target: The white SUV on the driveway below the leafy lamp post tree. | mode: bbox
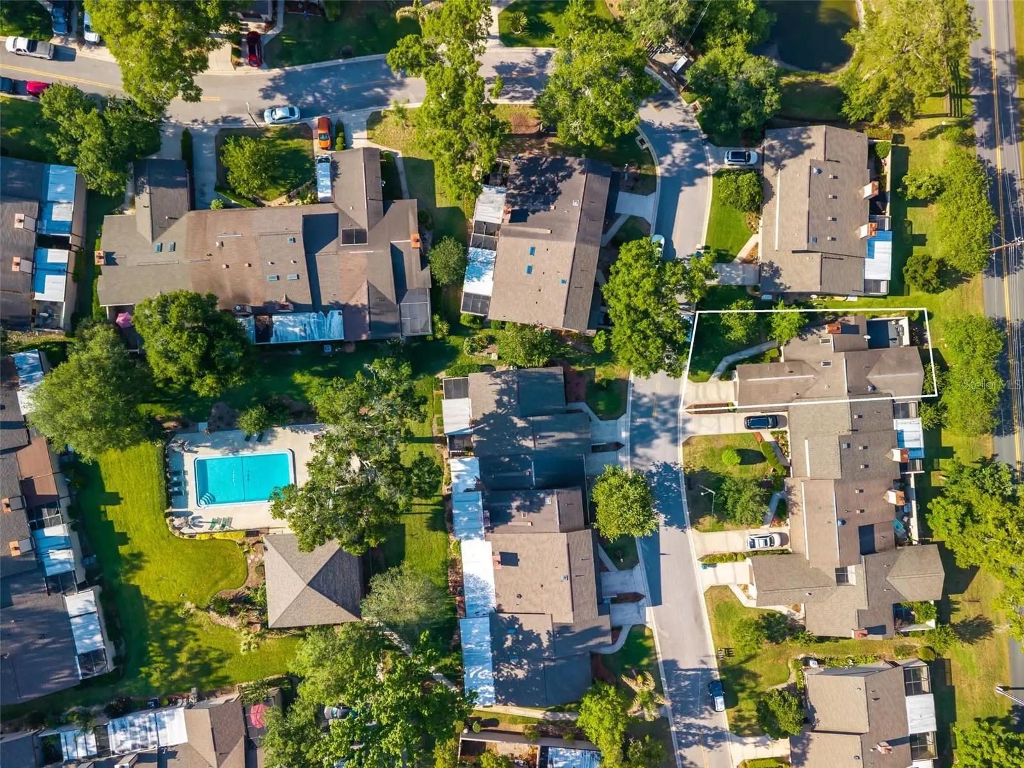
[746,533,781,551]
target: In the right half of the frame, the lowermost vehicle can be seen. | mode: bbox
[707,677,727,713]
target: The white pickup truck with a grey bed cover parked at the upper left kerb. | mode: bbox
[6,36,54,61]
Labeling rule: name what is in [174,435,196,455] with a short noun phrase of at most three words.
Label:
umbrella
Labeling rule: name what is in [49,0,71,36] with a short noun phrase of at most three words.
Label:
car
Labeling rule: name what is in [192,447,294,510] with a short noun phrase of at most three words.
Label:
swimming pool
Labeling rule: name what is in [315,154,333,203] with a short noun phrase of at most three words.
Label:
vehicle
